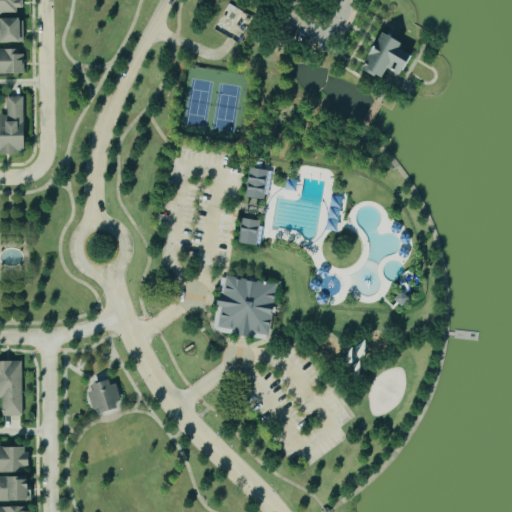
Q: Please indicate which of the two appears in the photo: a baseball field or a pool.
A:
pool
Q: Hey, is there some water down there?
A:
Yes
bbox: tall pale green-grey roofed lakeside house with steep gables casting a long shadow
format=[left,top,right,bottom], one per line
[362,31,412,76]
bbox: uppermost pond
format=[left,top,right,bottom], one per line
[297,64,374,116]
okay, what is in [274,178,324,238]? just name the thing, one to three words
swimming pool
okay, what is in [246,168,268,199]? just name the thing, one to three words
building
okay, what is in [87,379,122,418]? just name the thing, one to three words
house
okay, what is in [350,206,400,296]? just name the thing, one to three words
swimming pool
